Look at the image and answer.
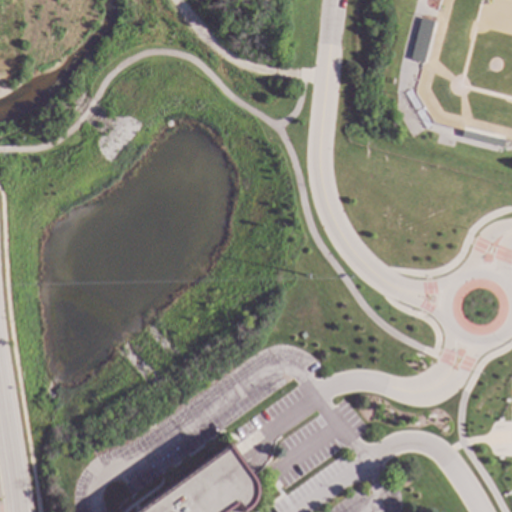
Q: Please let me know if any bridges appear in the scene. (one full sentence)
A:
No, there isn't any bridge down there.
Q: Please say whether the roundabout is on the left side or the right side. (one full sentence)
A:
The roundabout appears in the right half of the scene.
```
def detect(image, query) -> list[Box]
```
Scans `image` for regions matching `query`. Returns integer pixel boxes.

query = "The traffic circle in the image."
[422,236,512,371]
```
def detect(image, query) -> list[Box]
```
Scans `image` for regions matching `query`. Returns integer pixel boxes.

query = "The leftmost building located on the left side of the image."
[136,445,262,512]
